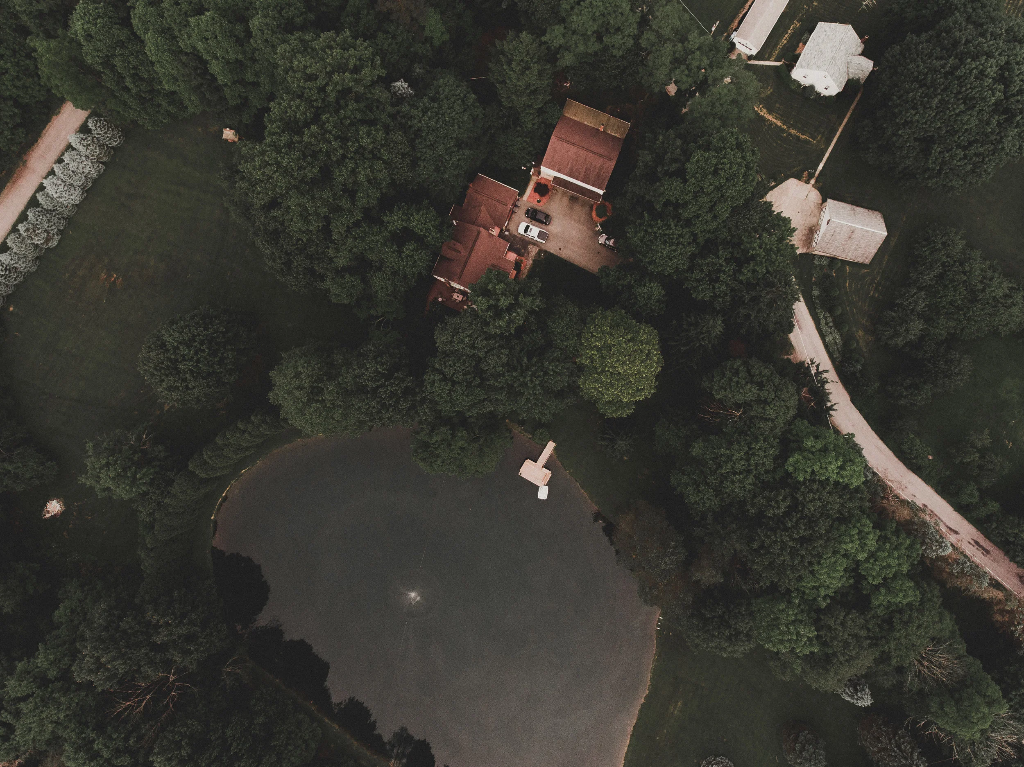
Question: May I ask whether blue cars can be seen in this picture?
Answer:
No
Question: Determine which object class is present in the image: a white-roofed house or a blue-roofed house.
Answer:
white-roofed house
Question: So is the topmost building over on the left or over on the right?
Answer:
right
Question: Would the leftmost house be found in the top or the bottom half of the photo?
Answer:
top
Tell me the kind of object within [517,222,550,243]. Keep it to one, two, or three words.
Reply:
truck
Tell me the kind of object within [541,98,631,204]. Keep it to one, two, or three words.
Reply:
house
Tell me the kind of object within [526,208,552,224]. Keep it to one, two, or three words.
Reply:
car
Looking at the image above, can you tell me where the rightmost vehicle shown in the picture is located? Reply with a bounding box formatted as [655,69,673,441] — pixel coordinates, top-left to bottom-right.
[598,231,623,250]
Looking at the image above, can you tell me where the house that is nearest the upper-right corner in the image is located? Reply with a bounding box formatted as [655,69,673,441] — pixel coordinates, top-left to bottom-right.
[788,21,876,99]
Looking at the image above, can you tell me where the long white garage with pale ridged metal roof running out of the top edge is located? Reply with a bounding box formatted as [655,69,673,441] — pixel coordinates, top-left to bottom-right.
[732,0,789,56]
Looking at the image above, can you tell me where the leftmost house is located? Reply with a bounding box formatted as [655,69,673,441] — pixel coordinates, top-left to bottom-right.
[433,174,519,290]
